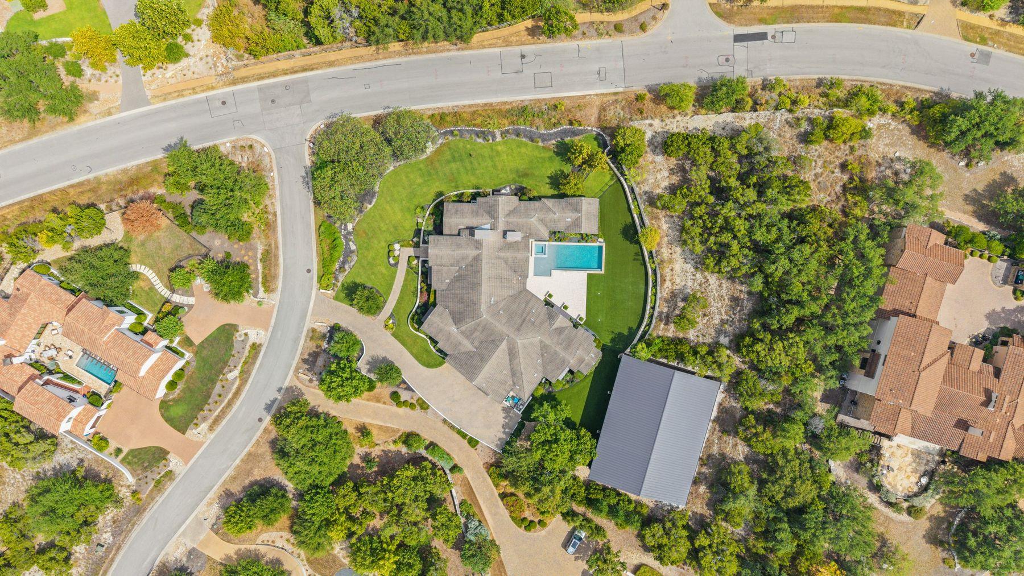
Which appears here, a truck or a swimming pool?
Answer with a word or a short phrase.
swimming pool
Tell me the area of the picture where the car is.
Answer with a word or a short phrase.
bottom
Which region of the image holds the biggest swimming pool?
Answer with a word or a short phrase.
center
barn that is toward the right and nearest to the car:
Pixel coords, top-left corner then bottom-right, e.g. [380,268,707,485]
[588,355,720,506]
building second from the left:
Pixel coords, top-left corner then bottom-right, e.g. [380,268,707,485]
[421,197,602,404]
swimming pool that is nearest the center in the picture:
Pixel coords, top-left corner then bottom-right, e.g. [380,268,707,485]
[529,241,606,279]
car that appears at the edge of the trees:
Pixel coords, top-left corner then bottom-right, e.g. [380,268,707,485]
[566,531,587,559]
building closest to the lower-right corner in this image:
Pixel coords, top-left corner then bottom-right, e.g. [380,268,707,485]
[858,224,1024,462]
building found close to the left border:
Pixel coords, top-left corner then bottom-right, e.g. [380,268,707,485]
[0,269,186,437]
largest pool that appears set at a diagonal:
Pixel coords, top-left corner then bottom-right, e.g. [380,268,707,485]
[74,353,117,388]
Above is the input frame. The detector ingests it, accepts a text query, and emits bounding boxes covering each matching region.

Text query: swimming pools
[74,353,117,388]
[529,241,606,279]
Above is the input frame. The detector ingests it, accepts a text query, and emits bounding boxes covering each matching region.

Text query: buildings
[0,269,186,437]
[421,197,602,404]
[858,224,1024,462]
[588,355,720,506]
